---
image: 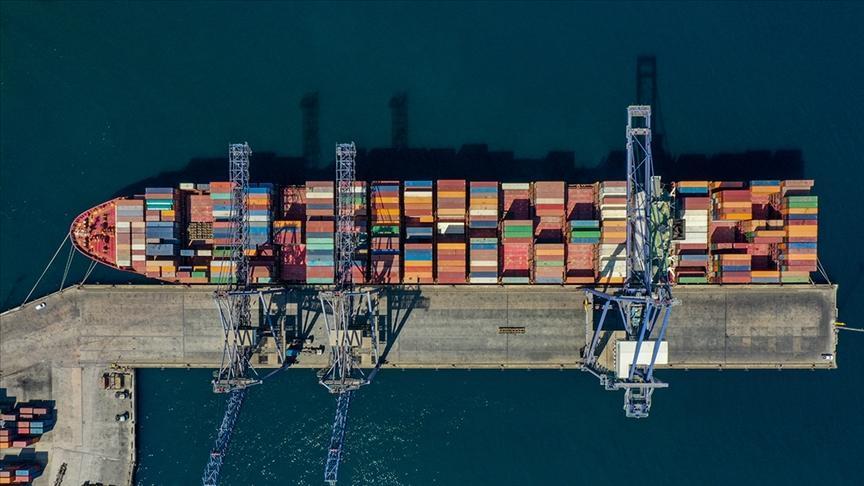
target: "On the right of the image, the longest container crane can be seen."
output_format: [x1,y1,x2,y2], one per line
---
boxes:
[576,103,679,419]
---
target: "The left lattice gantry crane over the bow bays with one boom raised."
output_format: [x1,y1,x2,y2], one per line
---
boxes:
[194,143,297,486]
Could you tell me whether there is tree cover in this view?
No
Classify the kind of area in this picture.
port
